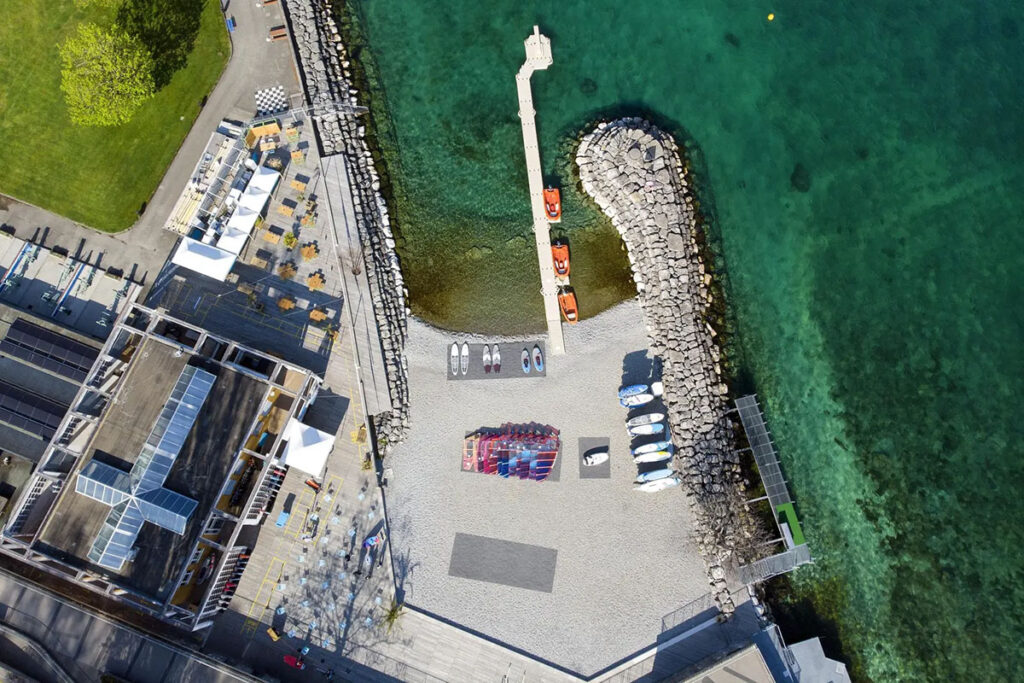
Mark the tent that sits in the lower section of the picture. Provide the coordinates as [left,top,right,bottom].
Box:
[284,420,341,478]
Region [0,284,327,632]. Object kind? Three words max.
building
